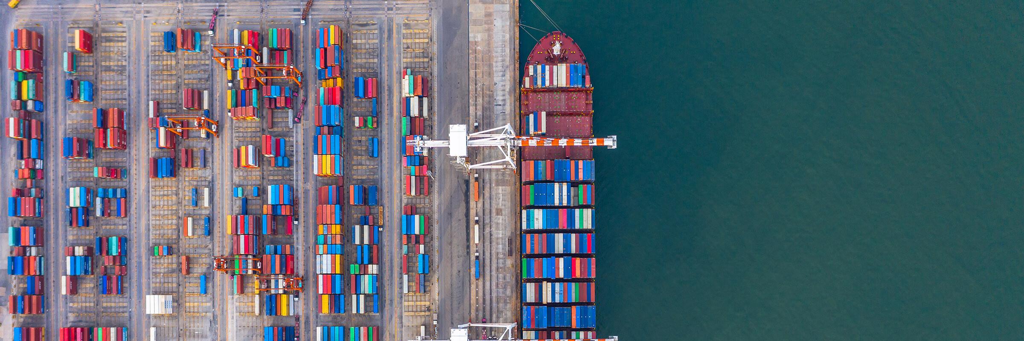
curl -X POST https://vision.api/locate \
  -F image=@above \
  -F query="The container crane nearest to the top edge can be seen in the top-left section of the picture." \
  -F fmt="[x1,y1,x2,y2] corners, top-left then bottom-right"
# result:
[212,43,262,68]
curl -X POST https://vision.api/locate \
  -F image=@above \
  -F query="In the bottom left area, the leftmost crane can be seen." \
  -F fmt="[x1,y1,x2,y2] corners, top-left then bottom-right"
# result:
[212,254,262,274]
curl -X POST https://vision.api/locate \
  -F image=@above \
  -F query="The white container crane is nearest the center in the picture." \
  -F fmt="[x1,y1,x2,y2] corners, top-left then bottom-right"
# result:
[406,124,616,176]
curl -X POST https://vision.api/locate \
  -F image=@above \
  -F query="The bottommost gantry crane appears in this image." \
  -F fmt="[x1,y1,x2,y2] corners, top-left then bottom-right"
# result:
[416,314,617,341]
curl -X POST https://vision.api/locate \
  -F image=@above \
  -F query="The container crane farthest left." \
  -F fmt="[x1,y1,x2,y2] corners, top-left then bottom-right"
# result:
[166,115,218,137]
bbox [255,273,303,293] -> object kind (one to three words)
container crane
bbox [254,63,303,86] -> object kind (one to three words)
container crane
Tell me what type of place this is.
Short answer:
port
